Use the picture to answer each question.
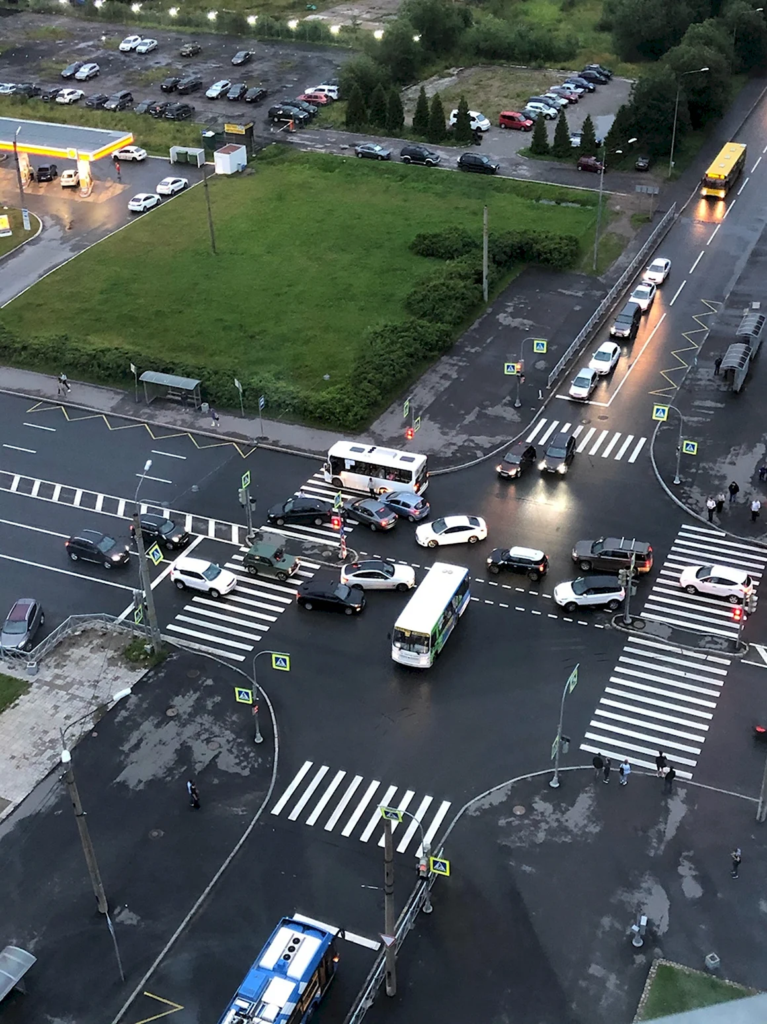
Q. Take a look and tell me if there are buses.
Yes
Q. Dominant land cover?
paved ground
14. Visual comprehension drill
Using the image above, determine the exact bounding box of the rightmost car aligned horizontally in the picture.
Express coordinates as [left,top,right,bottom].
[680,564,755,602]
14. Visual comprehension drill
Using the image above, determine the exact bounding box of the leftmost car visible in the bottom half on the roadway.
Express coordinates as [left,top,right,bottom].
[0,592,45,650]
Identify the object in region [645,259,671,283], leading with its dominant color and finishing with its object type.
white car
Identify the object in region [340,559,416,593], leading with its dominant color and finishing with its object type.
white car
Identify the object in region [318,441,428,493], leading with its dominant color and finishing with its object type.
white bus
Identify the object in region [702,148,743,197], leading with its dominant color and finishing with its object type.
yellow bus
